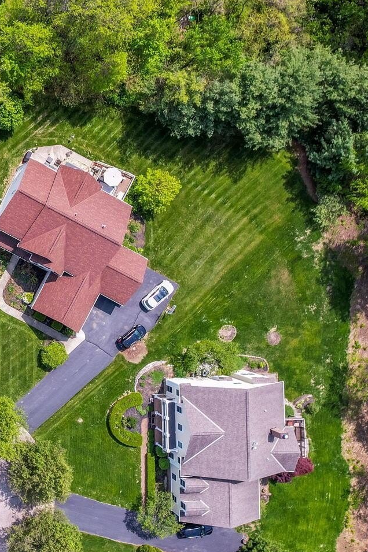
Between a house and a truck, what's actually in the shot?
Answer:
house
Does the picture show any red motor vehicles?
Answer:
No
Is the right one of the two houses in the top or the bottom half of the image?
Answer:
bottom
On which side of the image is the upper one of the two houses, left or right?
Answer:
left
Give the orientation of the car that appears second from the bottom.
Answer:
on a diagonal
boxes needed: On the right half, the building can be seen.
[150,376,304,530]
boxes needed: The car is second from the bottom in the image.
[112,321,149,355]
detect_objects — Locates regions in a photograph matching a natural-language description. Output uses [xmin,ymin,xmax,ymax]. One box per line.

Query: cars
[175,523,213,542]
[112,321,149,355]
[139,278,176,315]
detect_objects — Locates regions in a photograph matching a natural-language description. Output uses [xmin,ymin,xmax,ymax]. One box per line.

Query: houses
[150,376,304,530]
[0,159,148,332]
